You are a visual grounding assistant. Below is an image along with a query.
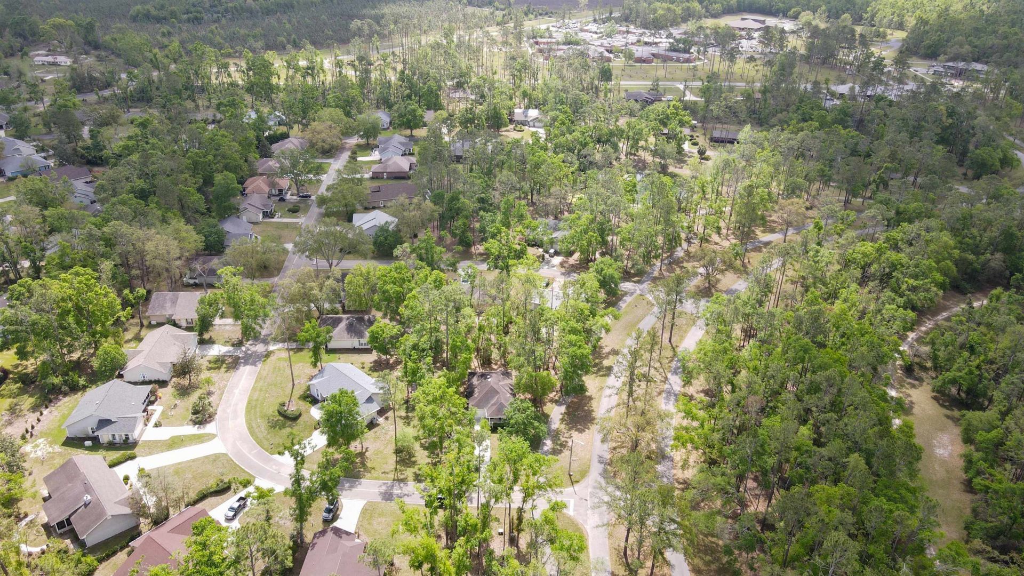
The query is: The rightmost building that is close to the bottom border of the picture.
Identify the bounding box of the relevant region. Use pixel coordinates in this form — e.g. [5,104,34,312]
[297,526,381,576]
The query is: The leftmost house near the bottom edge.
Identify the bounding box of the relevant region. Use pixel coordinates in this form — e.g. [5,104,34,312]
[40,452,144,549]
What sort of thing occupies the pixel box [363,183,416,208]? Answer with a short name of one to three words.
house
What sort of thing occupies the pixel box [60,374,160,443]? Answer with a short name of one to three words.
house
